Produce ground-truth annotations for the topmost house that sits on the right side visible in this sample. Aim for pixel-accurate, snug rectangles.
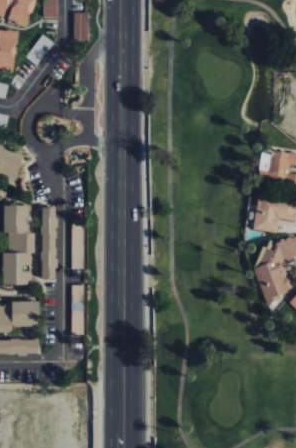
[258,150,296,185]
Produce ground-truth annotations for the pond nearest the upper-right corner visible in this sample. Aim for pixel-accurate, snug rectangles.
[242,10,272,126]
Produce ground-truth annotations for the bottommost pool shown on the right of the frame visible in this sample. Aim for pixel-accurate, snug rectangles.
[244,227,266,242]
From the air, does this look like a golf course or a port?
golf course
